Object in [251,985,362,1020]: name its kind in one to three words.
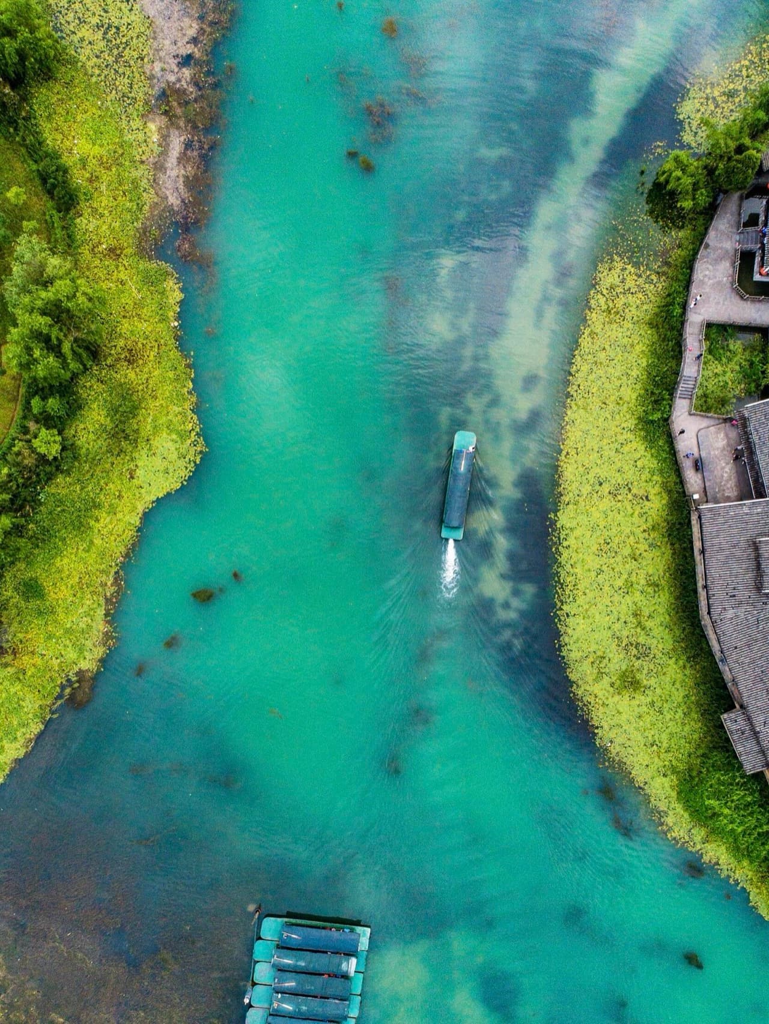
boat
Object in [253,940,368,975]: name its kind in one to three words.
boat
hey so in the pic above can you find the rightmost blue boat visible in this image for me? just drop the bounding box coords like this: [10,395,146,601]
[441,431,475,540]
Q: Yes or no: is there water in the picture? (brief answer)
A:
Yes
